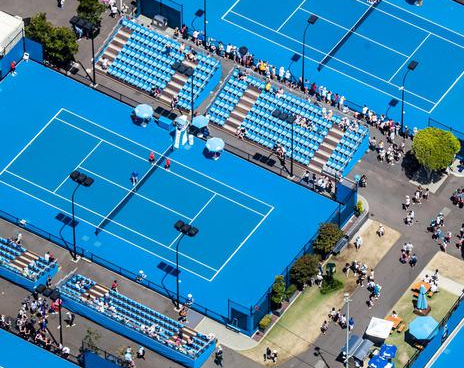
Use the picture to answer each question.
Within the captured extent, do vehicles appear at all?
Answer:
No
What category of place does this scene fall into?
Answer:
sports ground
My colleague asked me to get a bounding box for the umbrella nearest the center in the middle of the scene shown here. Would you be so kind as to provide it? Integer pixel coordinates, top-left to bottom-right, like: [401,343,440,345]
[204,138,227,164]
